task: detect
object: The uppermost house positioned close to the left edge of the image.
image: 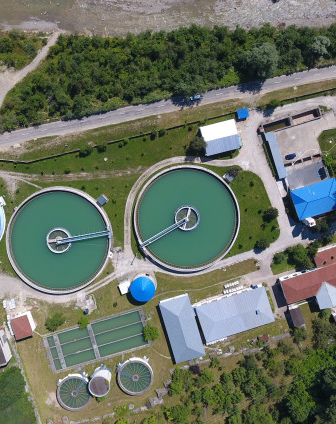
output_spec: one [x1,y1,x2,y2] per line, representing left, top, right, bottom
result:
[11,314,35,340]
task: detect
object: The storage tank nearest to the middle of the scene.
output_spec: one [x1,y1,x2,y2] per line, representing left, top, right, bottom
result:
[134,165,241,272]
